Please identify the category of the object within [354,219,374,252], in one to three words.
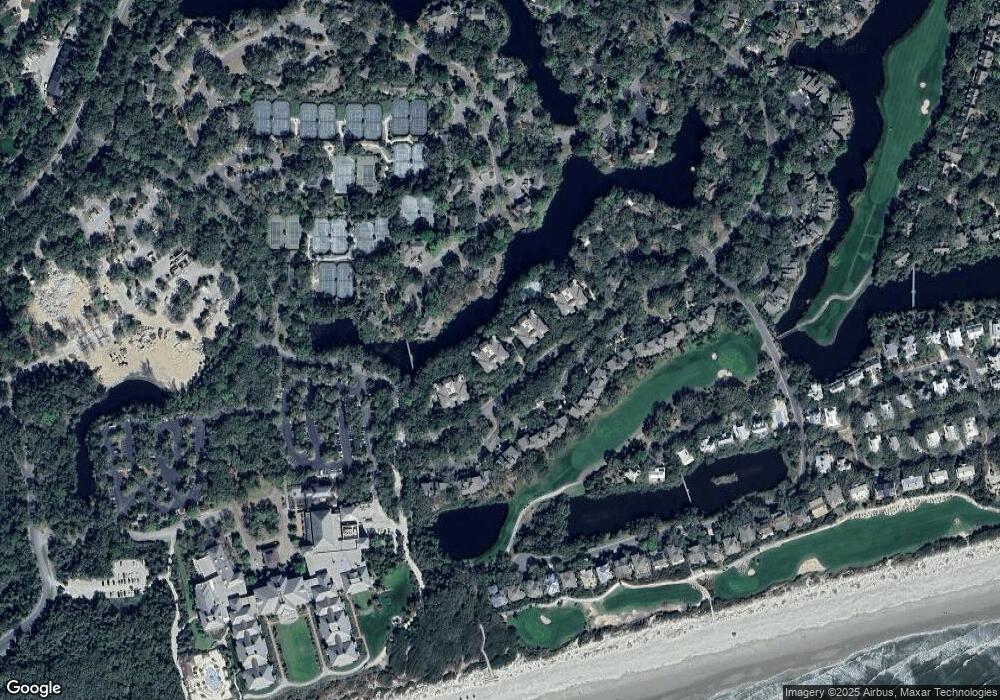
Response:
tennis court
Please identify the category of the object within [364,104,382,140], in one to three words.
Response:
tennis court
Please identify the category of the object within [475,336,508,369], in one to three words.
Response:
house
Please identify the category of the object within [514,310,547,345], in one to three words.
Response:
house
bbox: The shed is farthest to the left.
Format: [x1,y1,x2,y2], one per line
[47,41,75,97]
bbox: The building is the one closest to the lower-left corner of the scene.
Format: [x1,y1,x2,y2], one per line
[191,484,369,693]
